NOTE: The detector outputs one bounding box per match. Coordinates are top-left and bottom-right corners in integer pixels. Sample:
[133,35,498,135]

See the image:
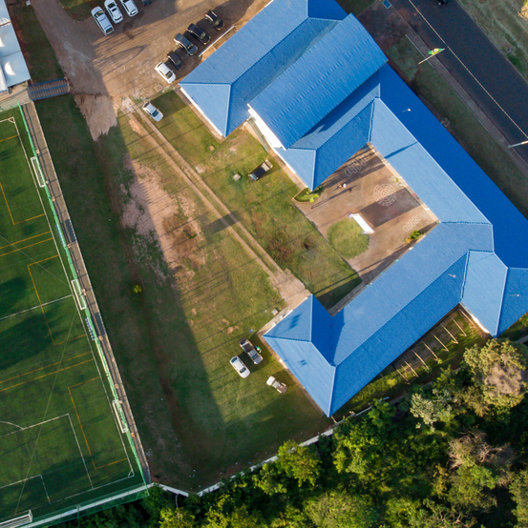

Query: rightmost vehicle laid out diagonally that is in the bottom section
[263,374,289,396]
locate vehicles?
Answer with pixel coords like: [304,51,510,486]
[141,0,154,9]
[187,22,210,47]
[164,45,185,68]
[263,374,289,396]
[204,9,224,32]
[227,352,252,380]
[93,7,113,35]
[104,0,123,25]
[120,0,139,18]
[237,334,263,366]
[173,32,196,58]
[246,155,276,183]
[153,60,177,85]
[141,98,164,124]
